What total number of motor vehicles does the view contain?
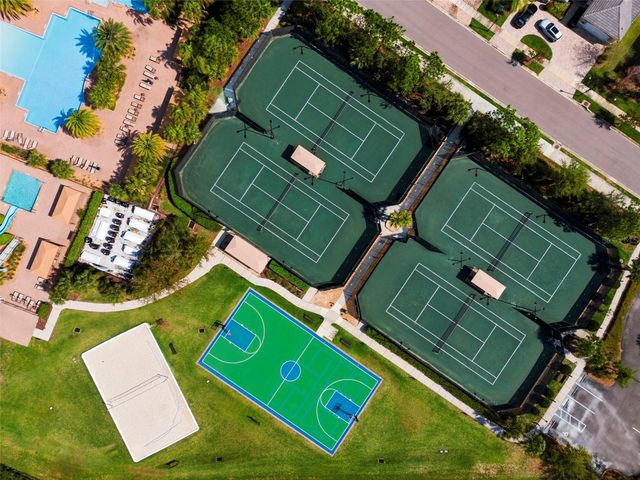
2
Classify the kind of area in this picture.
sports ground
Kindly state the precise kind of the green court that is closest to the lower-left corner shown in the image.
basketball court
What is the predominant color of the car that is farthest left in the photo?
black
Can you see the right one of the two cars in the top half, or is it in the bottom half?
top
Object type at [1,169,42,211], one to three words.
swimming pool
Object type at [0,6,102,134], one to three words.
swimming pool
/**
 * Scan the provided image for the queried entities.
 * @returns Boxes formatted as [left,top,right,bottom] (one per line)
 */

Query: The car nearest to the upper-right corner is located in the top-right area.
[538,21,564,42]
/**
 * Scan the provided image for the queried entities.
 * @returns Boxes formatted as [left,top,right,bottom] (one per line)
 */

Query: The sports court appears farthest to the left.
[81,323,199,463]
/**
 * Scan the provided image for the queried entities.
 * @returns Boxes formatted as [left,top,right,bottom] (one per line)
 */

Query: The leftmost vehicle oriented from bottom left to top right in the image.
[511,4,536,29]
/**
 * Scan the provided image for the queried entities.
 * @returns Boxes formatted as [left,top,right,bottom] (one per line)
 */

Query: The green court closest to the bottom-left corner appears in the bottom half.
[198,288,382,456]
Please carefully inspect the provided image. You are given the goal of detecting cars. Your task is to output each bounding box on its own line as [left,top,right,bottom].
[538,21,564,42]
[511,4,536,29]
